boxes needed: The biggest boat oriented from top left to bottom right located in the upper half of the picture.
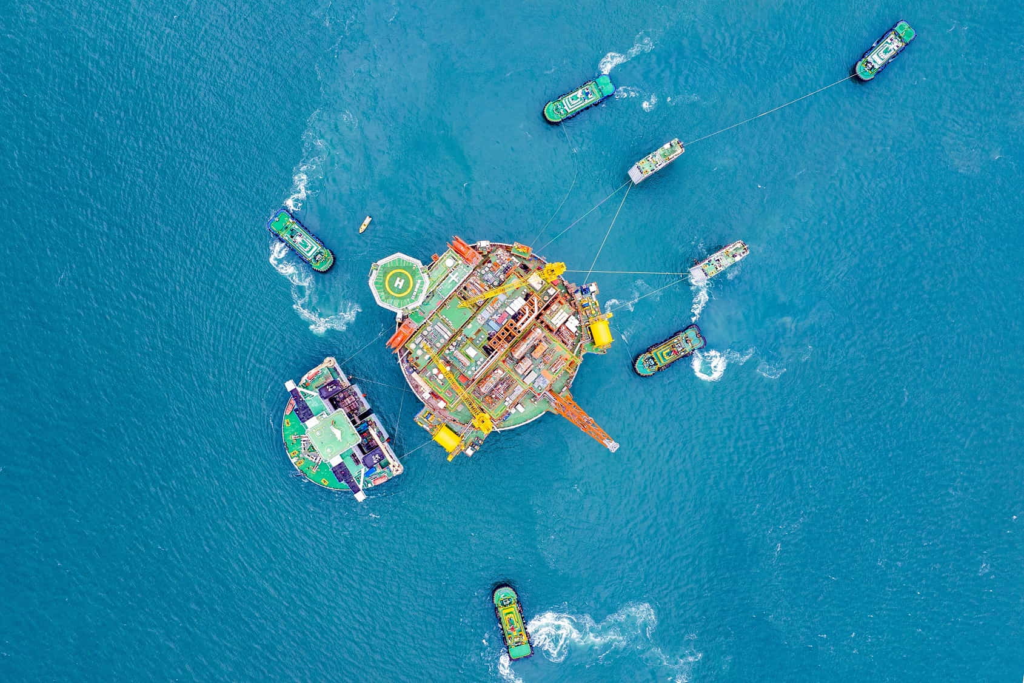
[268,210,335,271]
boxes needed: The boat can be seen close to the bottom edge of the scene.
[493,583,535,660]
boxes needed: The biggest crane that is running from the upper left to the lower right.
[422,341,498,442]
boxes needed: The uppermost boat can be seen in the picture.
[853,19,918,84]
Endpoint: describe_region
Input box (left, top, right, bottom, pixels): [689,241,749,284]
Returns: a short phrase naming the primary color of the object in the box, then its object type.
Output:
white boat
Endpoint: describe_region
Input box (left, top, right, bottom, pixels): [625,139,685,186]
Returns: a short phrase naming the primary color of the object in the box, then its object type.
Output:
white boat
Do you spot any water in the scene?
Yes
